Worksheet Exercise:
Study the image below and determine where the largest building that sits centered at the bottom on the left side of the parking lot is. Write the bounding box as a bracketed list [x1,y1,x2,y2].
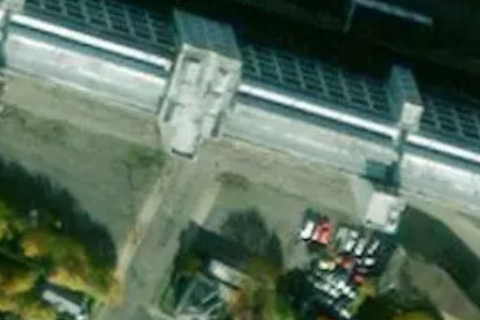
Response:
[168,263,228,315]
